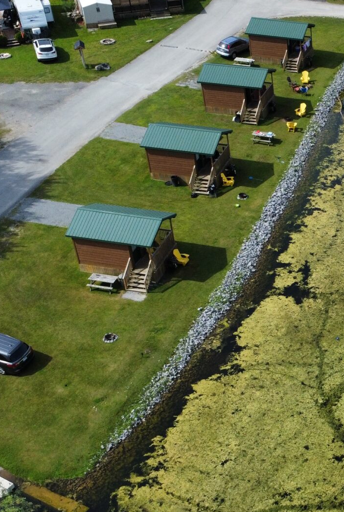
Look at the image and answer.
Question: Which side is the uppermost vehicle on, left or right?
left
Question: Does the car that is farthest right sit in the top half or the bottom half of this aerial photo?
top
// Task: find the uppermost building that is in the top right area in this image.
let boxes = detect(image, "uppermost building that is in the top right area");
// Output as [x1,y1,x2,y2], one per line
[245,16,320,72]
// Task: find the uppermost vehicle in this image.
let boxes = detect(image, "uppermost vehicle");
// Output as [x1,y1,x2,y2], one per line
[19,0,64,41]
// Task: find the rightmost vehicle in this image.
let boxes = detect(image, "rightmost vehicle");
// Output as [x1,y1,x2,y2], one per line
[216,36,249,59]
